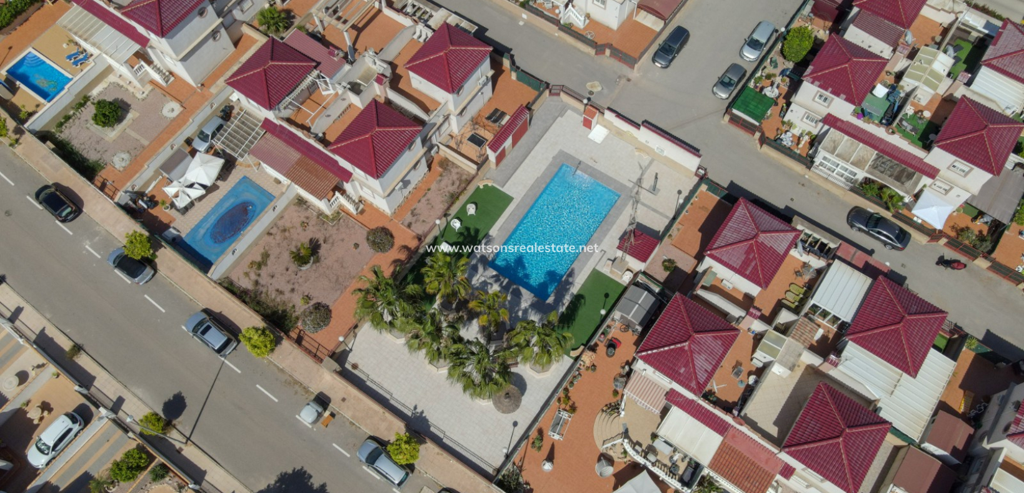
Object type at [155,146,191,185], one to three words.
shed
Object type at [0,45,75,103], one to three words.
swimming pool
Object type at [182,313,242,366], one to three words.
car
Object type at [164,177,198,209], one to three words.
umbrella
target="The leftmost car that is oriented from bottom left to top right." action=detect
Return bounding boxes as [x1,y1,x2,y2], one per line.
[24,403,92,465]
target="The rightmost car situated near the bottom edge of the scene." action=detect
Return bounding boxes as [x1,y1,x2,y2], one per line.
[351,437,419,493]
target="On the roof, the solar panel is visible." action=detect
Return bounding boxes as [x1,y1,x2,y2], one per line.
[960,15,994,40]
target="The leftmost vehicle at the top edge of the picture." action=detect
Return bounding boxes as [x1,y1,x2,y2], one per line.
[647,21,691,69]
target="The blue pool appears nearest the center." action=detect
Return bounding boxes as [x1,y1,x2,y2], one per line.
[482,158,626,306]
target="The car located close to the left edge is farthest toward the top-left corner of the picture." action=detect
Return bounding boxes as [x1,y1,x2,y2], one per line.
[35,191,82,230]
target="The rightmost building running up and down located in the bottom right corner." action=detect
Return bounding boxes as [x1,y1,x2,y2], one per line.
[968,365,1024,481]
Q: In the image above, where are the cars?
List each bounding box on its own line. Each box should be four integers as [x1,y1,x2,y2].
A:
[24,403,92,465]
[182,313,242,366]
[839,210,913,257]
[647,21,691,69]
[706,59,751,103]
[105,250,158,294]
[737,17,783,65]
[35,191,82,230]
[351,437,419,493]
[185,114,230,155]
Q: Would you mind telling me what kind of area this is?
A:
residential area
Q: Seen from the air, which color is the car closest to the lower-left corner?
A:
white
